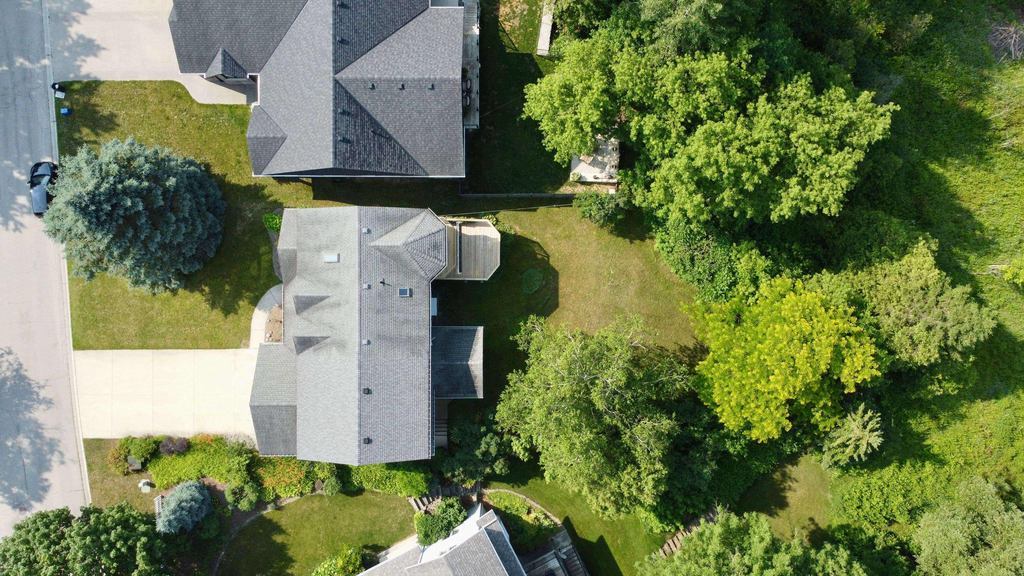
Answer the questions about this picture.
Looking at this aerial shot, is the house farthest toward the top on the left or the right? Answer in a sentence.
You can find the house farthest toward the top on the left side of the picture.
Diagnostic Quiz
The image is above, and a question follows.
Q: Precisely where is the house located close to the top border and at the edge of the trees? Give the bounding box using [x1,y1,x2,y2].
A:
[162,0,464,180]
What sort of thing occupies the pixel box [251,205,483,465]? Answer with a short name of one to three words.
house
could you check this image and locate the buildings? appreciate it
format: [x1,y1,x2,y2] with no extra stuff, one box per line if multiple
[350,500,528,576]
[162,0,464,180]
[251,205,483,465]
